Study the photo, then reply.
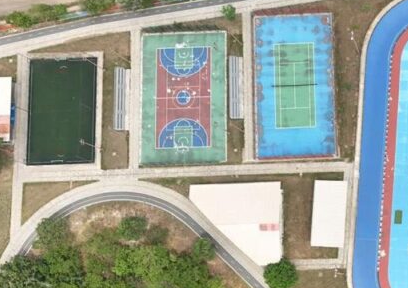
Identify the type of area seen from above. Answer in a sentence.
The picture captures a sports ground.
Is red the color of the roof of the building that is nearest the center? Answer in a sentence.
No, the color of the roof of the building that is nearest the center is white.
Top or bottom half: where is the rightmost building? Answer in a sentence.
The bottom half of the photo is where the rightmost building is.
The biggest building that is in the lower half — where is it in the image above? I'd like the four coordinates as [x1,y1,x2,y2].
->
[190,182,284,265]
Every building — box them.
[311,180,348,247]
[190,182,284,265]
[0,77,21,143]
